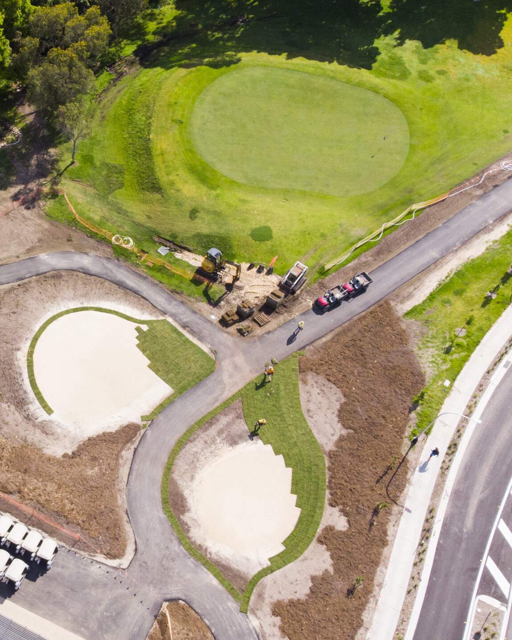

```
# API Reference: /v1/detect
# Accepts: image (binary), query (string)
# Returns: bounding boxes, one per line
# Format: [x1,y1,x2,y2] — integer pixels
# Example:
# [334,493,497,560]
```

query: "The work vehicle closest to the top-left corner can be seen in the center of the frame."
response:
[197,256,243,287]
